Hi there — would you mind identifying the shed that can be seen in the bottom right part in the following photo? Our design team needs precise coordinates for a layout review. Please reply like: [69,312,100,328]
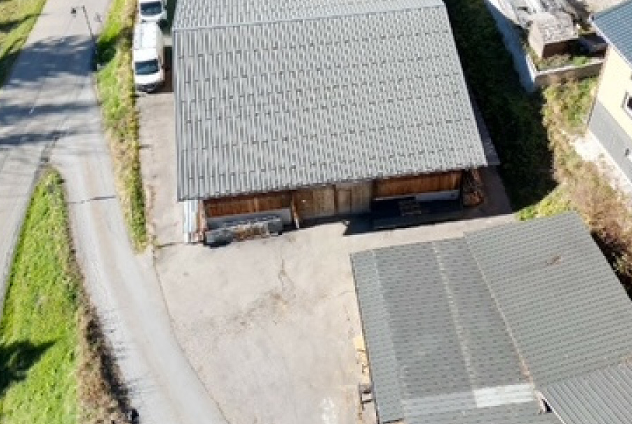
[348,211,632,424]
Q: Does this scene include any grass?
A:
Yes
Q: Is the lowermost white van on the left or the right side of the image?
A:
left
